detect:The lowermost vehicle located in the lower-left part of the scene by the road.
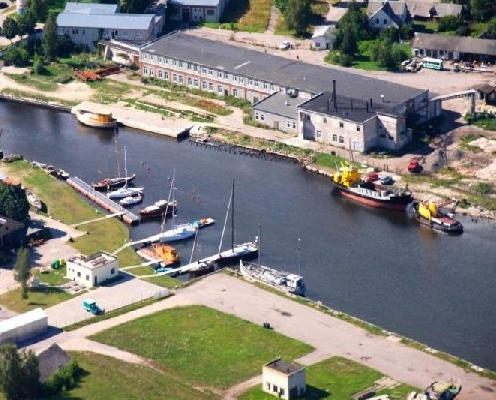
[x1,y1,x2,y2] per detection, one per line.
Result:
[82,293,103,312]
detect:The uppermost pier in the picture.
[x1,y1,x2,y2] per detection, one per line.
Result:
[72,100,192,141]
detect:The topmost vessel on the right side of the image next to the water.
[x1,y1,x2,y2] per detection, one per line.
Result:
[337,160,414,211]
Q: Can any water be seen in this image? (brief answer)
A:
Yes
